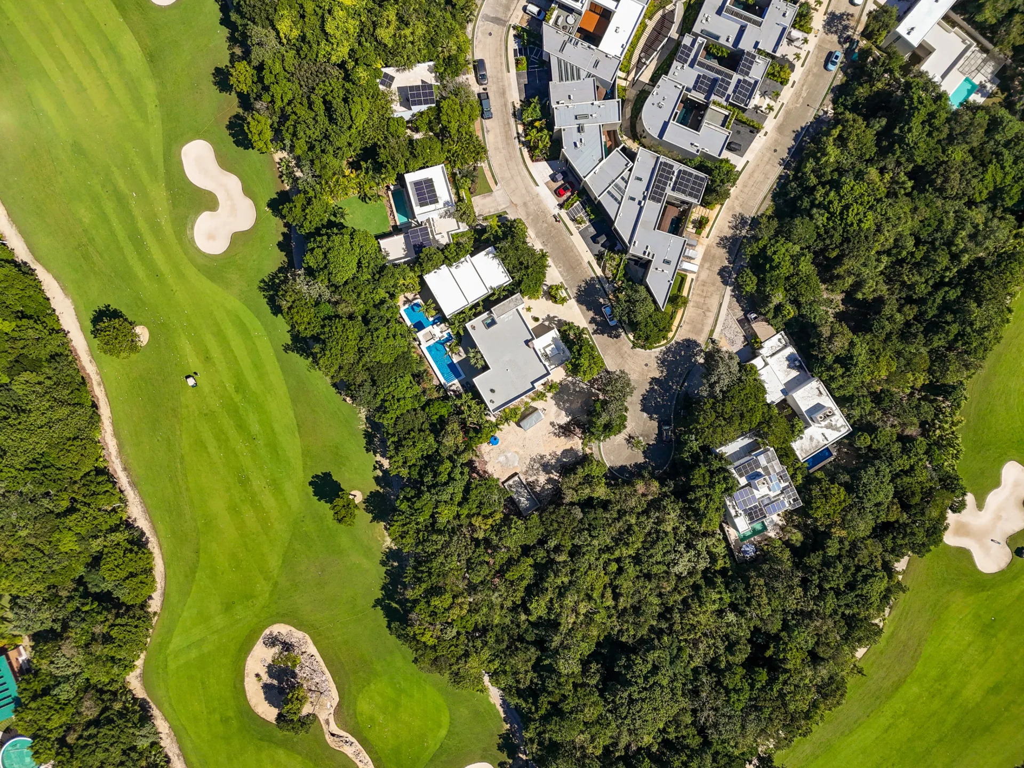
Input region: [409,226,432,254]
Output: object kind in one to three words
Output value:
solar array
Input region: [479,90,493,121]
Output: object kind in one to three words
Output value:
vehicle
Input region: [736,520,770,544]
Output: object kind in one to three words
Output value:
swimming pool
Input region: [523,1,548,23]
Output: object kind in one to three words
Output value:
car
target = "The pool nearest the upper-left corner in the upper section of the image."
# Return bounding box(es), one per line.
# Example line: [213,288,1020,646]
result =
[390,188,410,225]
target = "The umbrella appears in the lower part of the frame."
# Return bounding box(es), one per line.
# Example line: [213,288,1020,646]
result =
[741,542,755,556]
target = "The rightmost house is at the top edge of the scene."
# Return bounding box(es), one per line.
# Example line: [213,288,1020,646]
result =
[879,0,976,88]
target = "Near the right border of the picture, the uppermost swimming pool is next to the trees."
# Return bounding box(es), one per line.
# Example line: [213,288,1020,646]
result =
[947,75,982,110]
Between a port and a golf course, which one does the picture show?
golf course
